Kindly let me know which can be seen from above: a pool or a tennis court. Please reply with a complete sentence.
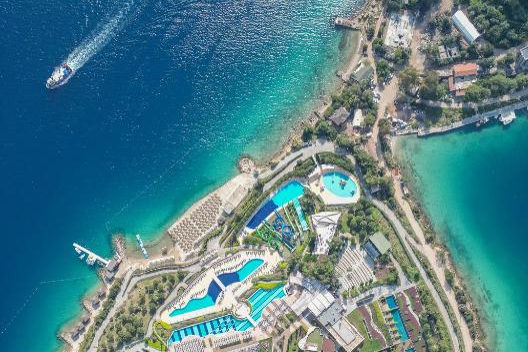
Visible in the photo is a pool.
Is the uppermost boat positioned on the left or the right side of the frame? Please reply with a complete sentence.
It is on the left.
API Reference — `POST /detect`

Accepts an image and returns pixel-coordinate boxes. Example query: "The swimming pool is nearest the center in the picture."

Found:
[246,180,305,229]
